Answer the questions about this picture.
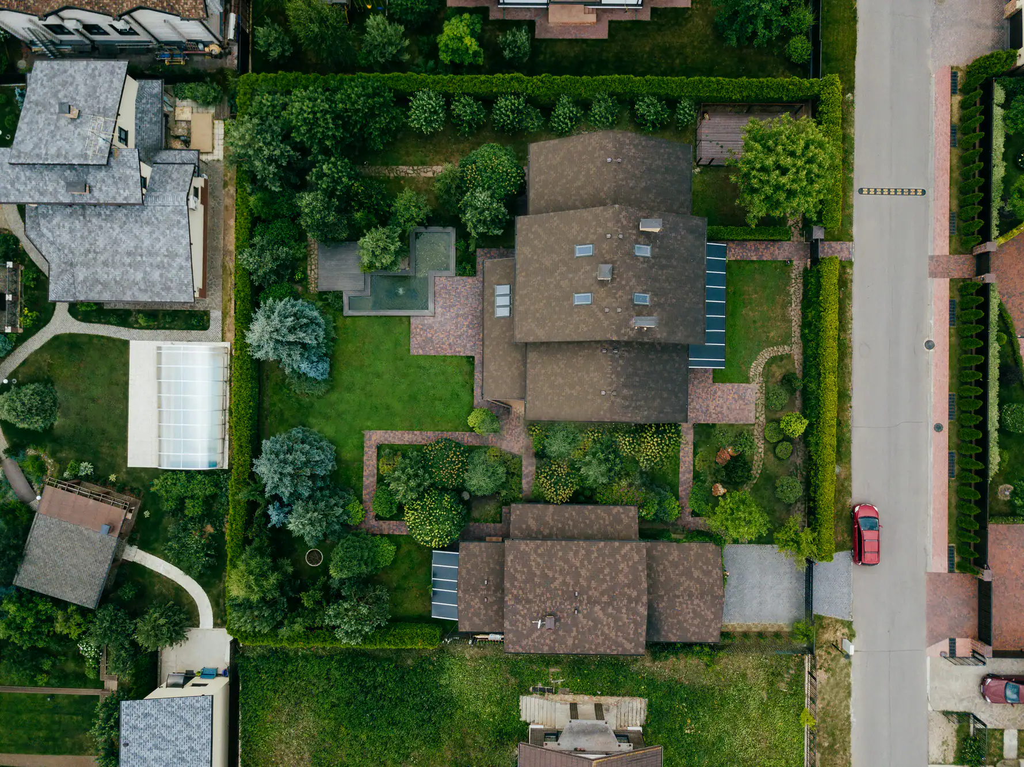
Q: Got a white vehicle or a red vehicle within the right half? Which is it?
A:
red vehicle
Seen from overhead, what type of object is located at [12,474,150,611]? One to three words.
building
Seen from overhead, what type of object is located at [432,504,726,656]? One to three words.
house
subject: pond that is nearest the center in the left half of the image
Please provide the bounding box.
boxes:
[343,226,455,316]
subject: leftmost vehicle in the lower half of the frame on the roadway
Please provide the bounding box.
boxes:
[851,504,885,566]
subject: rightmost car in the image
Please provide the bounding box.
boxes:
[980,674,1024,708]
